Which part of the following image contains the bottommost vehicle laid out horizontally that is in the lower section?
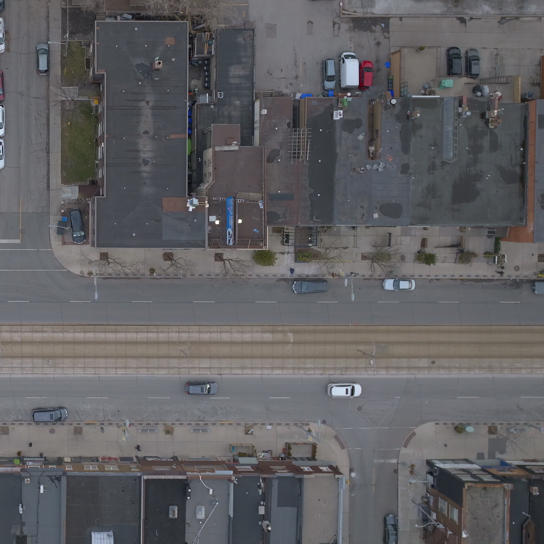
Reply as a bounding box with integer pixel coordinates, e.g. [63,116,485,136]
[32,407,67,423]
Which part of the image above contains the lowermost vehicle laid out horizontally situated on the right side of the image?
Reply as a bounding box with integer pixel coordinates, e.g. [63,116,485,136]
[326,382,361,399]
